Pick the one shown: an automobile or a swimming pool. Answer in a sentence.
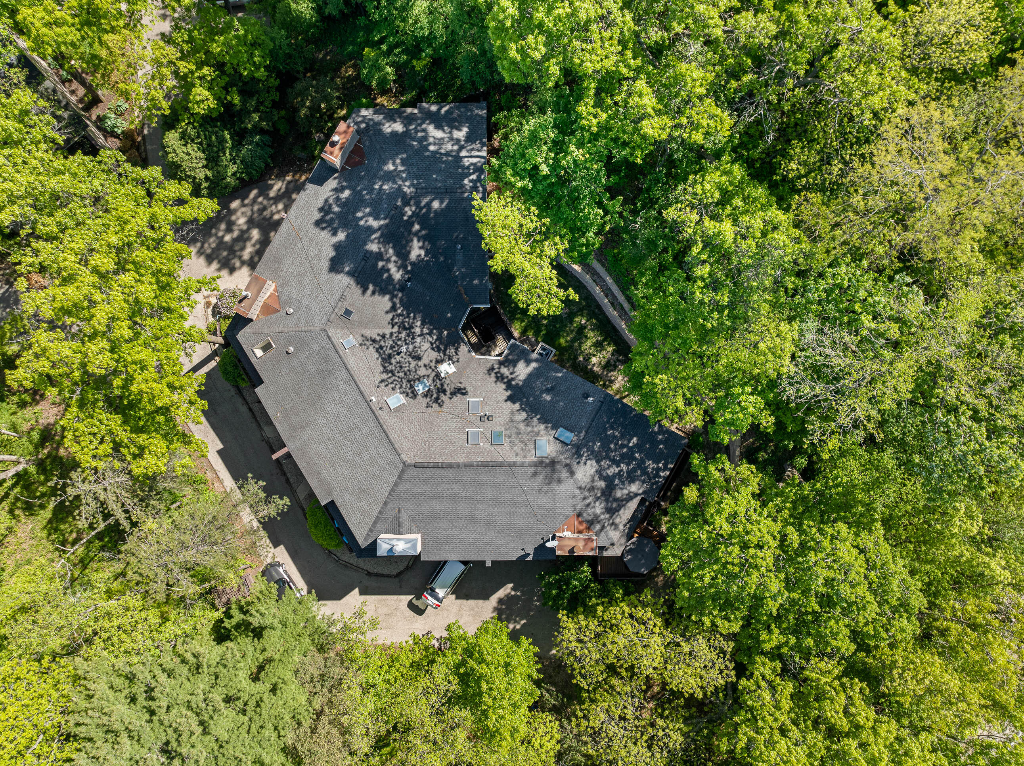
I can see an automobile in this picture.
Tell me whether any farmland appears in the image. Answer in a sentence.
No, farmland can't be seen anywhere here.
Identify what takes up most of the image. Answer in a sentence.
For the most part, this view shows trees.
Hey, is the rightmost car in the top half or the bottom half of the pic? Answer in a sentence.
The rightmost car sits in the bottom half of the picture.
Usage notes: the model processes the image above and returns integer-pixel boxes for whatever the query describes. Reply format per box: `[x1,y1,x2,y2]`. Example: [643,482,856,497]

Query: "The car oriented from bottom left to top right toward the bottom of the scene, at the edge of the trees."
[421,561,472,610]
